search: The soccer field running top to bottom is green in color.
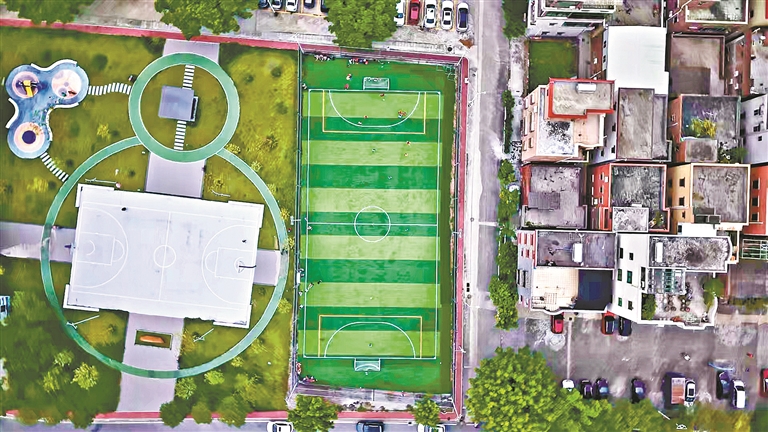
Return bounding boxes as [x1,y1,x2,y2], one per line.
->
[297,53,457,395]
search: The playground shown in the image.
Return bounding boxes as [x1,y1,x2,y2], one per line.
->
[5,58,88,158]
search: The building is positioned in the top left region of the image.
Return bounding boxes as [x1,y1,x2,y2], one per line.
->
[158,86,201,124]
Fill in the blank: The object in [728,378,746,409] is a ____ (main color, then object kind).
white vehicle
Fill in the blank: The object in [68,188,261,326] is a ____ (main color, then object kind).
white basketball court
